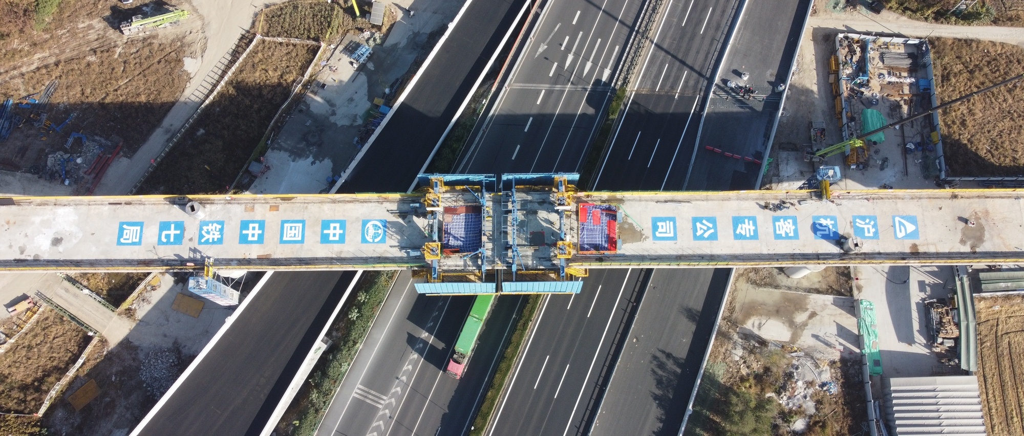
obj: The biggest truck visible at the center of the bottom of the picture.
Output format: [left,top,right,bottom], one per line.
[449,296,495,383]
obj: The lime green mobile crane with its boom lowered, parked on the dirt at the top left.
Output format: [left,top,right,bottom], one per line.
[118,6,192,43]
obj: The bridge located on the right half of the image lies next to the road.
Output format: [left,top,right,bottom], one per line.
[507,193,1024,282]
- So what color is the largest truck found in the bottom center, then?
green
